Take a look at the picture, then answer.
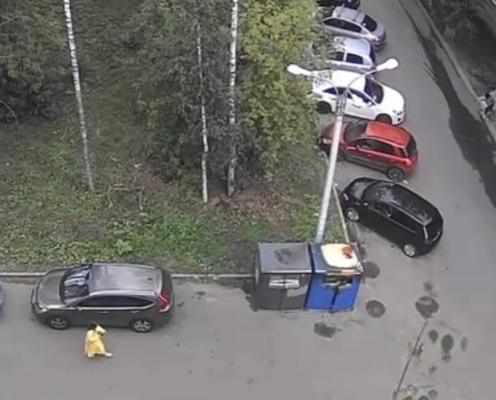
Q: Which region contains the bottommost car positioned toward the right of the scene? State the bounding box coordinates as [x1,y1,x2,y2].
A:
[345,184,456,259]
